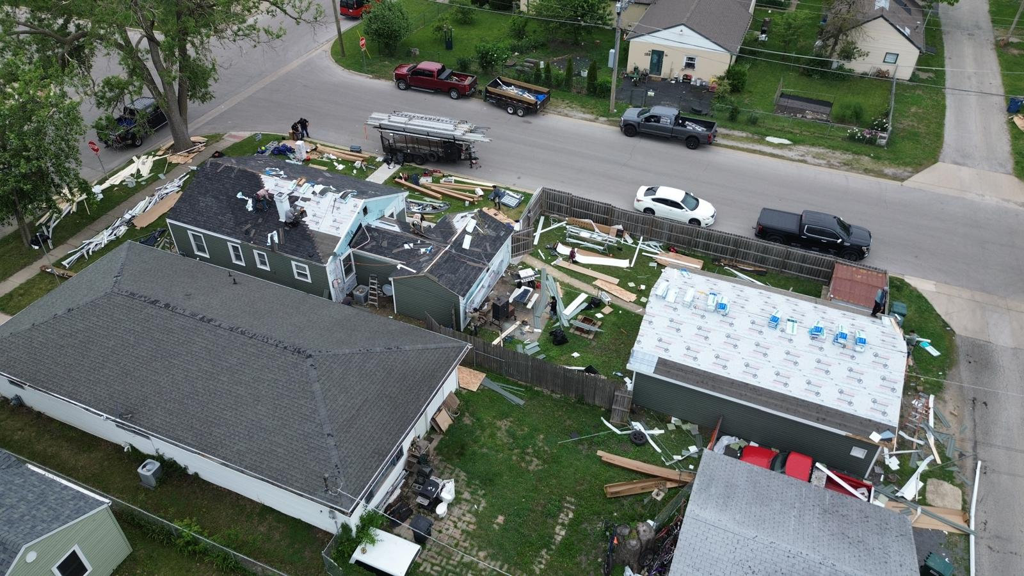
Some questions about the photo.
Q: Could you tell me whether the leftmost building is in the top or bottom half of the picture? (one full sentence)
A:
The leftmost building is in the bottom half of the image.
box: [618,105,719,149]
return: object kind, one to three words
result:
truck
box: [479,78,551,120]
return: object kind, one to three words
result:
trailer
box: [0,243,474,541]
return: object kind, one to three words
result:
house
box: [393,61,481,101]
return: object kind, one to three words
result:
truck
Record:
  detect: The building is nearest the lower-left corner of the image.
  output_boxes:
[0,449,130,576]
